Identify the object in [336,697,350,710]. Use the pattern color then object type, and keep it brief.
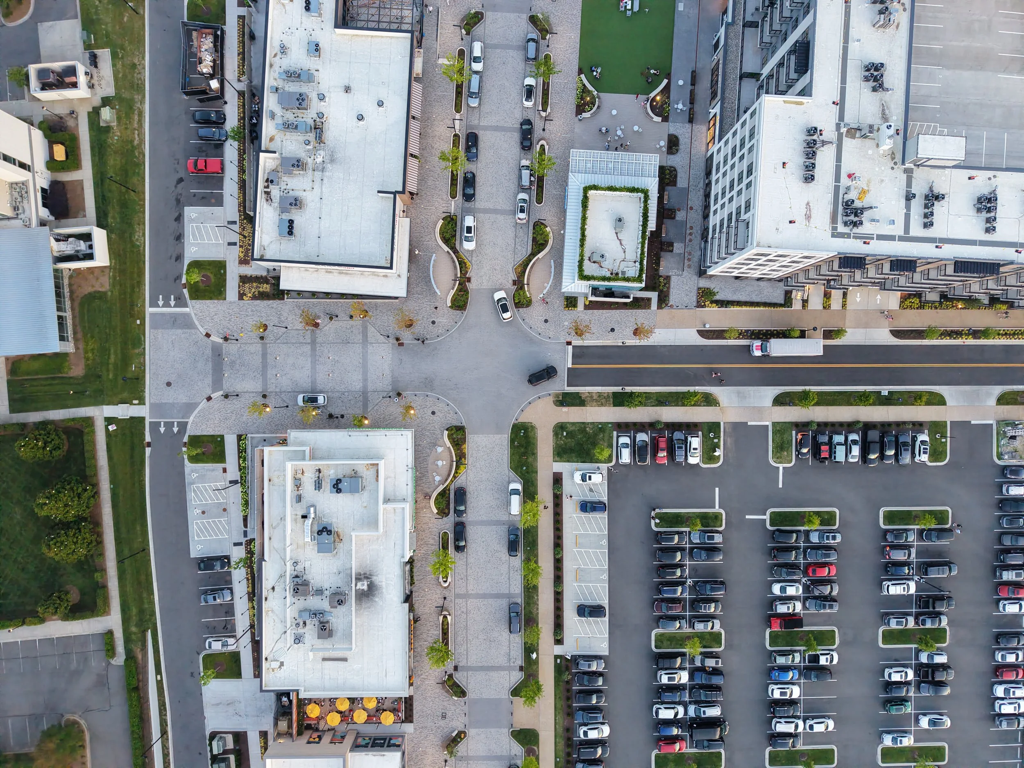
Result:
yellow umbrella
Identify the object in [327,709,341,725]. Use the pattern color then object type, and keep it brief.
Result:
yellow umbrella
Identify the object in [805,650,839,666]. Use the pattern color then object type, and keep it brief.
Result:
white vehicle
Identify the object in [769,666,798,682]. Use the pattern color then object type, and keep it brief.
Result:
blue car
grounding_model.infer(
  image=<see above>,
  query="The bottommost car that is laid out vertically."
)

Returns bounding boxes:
[506,602,521,634]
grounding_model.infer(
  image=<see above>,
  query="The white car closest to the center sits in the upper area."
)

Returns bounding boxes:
[493,290,513,323]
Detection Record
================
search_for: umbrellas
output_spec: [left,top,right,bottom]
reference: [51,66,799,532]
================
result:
[354,707,368,722]
[336,697,350,710]
[381,708,395,724]
[363,697,378,709]
[327,709,341,725]
[307,701,321,717]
